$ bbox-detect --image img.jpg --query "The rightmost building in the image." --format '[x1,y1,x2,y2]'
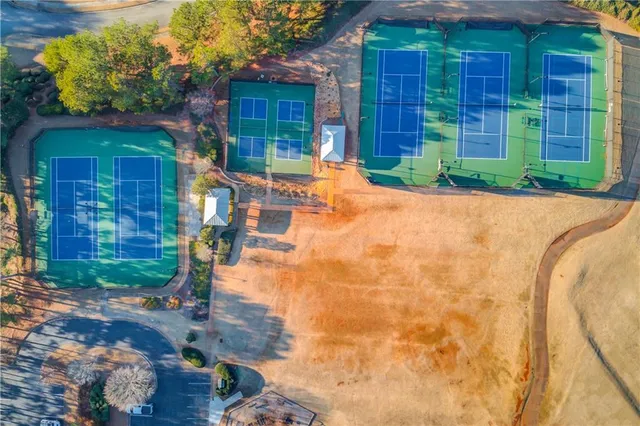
[319,124,346,164]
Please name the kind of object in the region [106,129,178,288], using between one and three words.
tennis court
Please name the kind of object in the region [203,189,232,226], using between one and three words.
building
